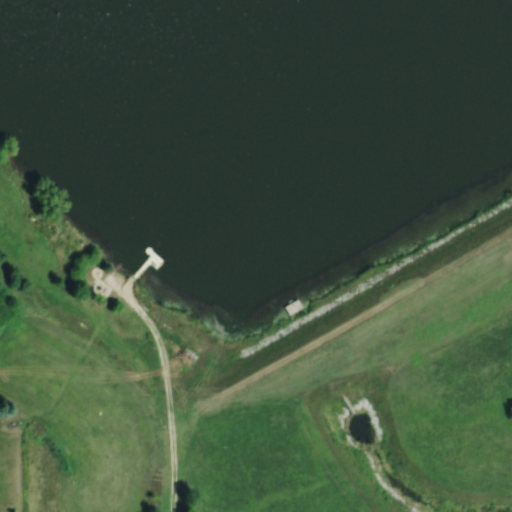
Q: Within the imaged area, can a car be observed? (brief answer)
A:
No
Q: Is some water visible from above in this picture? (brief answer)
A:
Yes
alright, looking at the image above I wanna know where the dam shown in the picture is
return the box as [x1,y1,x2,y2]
[175,196,512,414]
